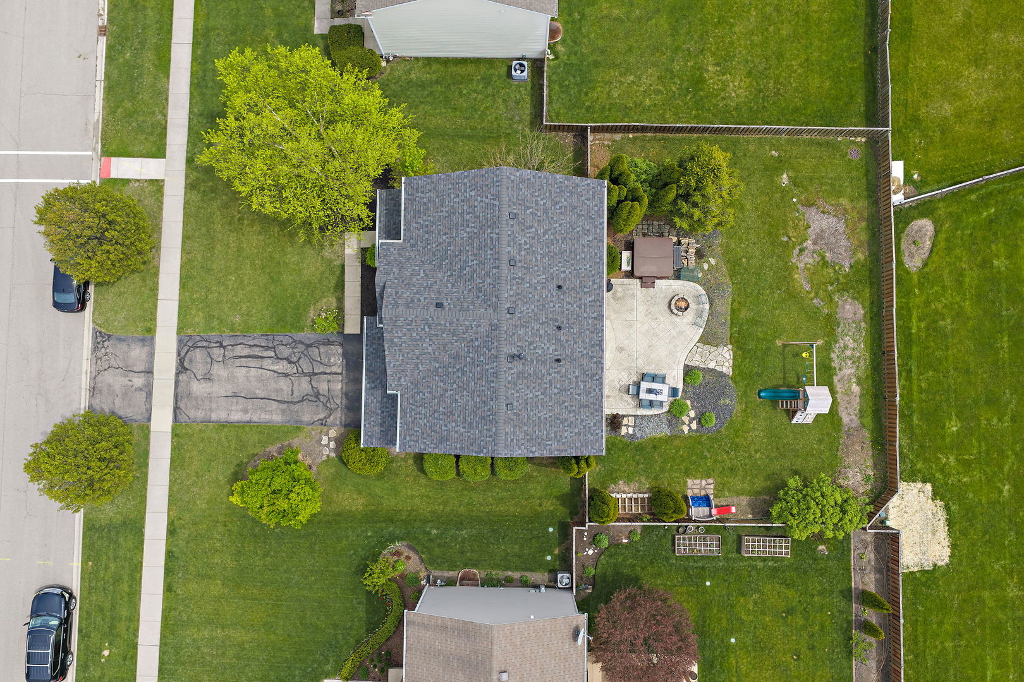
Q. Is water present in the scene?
No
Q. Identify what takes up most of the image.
grass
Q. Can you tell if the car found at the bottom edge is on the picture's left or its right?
left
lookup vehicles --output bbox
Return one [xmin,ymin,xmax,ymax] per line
[22,585,76,682]
[49,237,88,313]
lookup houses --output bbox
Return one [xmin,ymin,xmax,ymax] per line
[360,167,608,457]
[354,0,559,60]
[401,579,590,682]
